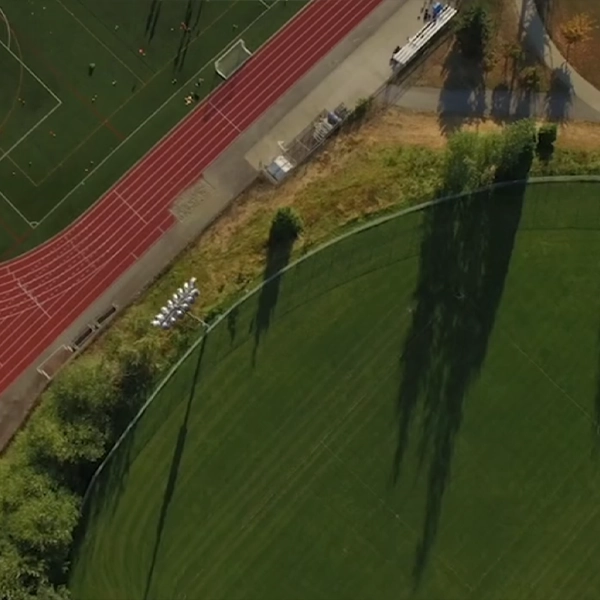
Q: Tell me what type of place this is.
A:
sports ground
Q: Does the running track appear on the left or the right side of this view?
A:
left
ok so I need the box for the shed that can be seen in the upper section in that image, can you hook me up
[267,155,295,183]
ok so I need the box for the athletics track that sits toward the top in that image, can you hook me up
[0,0,387,393]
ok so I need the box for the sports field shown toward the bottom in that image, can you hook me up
[65,181,600,600]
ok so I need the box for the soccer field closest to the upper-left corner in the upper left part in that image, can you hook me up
[0,0,311,266]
